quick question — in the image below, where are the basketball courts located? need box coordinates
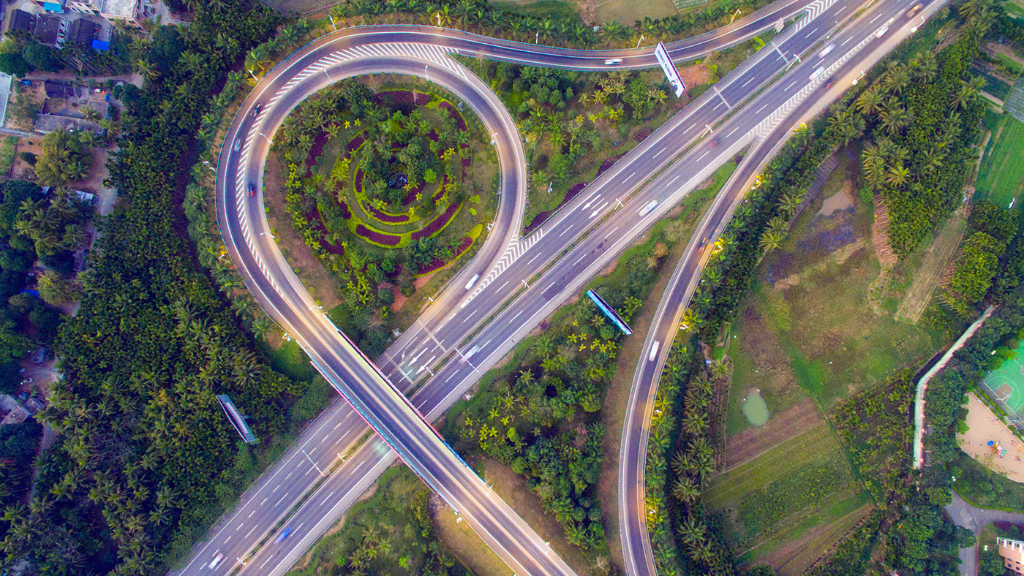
[977,330,1024,422]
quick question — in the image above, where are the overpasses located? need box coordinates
[307,329,470,492]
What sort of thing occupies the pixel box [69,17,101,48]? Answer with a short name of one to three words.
house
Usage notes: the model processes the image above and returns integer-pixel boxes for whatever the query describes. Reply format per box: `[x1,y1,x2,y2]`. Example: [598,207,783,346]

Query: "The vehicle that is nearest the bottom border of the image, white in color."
[208,553,222,569]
